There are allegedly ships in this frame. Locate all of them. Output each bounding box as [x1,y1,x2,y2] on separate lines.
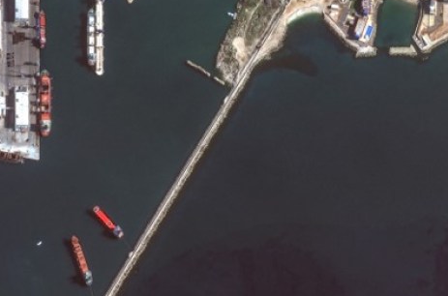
[70,236,93,288]
[37,69,51,137]
[37,9,47,49]
[96,204,122,240]
[84,7,95,67]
